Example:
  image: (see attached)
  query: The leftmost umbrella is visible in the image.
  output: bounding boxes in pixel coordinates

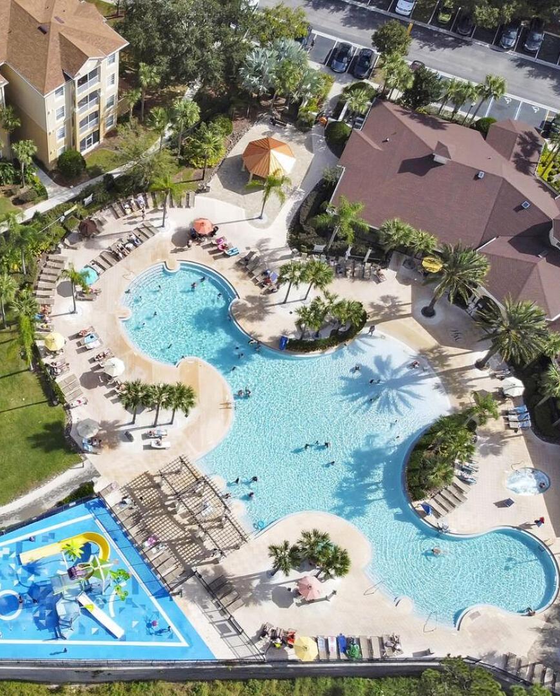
[42,333,68,355]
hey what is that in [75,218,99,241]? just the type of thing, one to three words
umbrella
